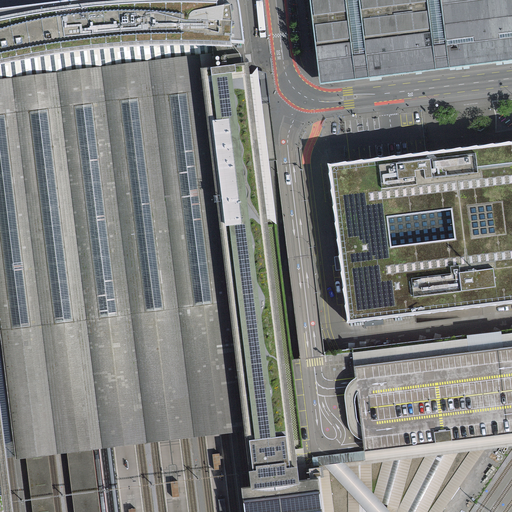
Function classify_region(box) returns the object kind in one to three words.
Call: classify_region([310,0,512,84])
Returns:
building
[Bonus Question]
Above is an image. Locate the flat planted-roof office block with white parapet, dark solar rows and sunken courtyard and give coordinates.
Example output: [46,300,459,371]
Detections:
[328,141,512,327]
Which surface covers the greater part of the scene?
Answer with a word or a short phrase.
buildings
